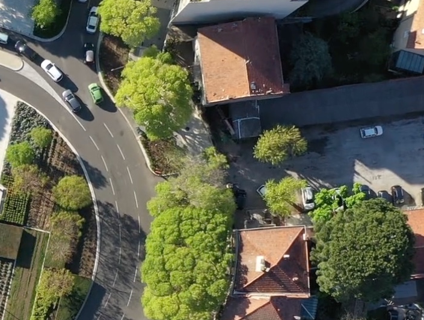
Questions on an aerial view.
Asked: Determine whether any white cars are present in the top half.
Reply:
Yes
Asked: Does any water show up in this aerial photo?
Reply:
No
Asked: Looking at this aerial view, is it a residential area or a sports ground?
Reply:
residential area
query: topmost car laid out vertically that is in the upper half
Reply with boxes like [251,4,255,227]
[85,7,99,32]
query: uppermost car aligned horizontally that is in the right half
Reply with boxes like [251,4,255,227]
[357,124,383,137]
